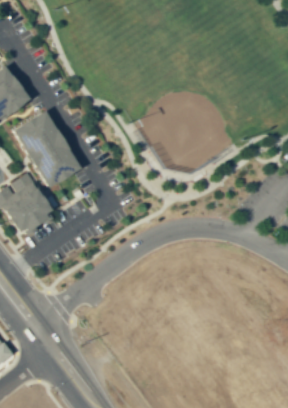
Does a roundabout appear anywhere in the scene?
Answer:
No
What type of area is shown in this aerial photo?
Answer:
sports ground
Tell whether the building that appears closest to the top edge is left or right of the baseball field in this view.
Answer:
to the left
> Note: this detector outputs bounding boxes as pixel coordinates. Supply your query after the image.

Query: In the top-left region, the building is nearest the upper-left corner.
[0,66,31,120]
